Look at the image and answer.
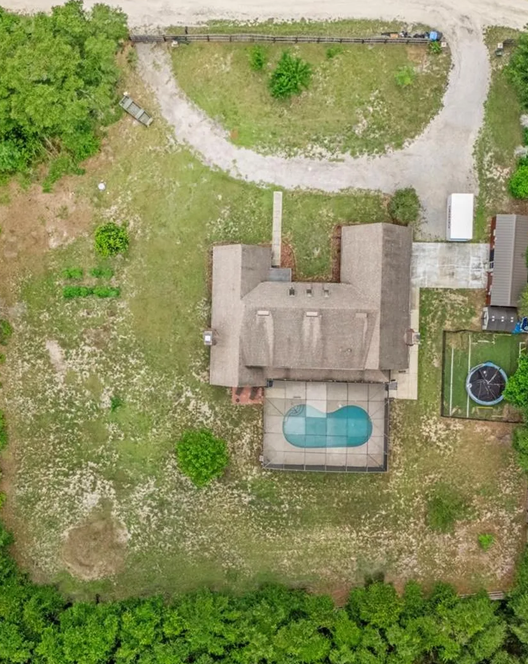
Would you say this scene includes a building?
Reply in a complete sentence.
Yes, I can see a building in this picture.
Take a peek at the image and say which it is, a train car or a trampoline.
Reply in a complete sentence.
Looking from above, you can make out a trampoline.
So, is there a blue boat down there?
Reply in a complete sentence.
No, the frame has no blue boat in it.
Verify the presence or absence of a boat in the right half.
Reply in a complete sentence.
No, looking in the right half, there is no boat.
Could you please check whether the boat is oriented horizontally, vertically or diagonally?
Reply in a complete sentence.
The boat is oriented diagonally.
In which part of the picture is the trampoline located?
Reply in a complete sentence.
The trampoline is in the right part of the image.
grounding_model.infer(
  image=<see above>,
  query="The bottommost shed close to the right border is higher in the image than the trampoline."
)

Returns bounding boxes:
[483,307,522,332]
